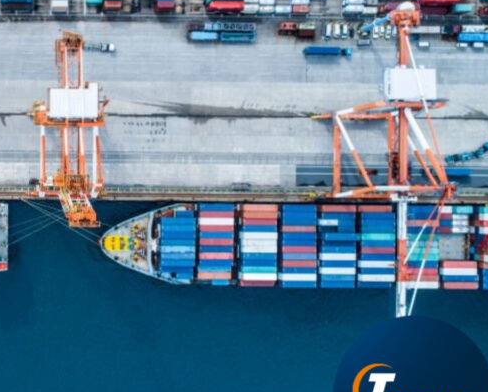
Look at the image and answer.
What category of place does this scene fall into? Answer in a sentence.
What you see here is a port.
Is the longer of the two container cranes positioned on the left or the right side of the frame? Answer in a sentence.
The longer of the two container cranes is on the right side of the image.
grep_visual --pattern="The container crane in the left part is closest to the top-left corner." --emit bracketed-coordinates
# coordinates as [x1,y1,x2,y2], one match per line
[25,29,113,226]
